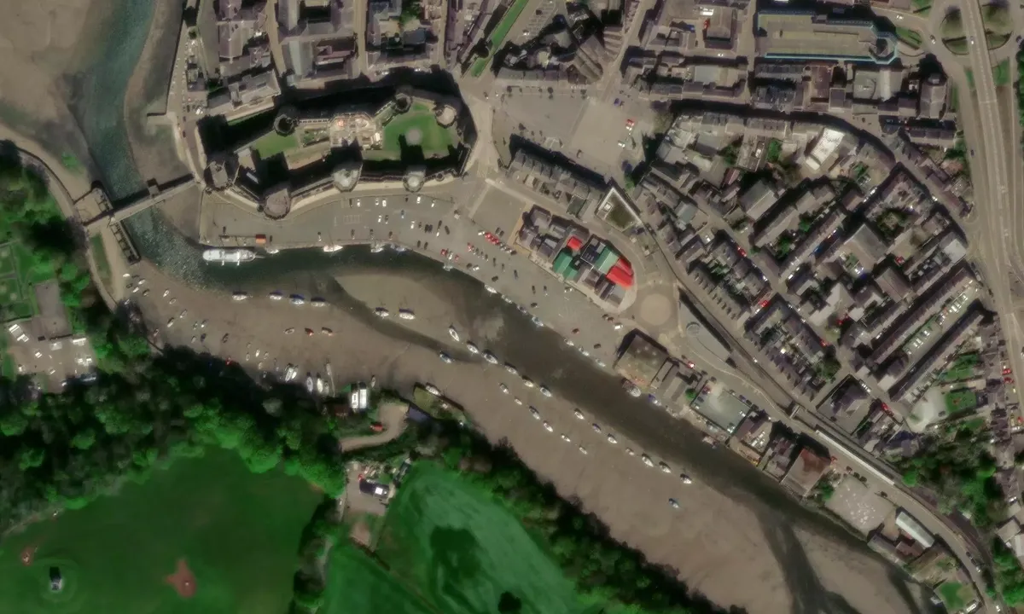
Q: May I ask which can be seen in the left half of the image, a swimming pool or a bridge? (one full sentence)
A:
It is a bridge that can be seen in the left half of the image.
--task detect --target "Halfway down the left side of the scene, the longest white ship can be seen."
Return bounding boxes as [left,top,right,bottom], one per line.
[203,252,254,268]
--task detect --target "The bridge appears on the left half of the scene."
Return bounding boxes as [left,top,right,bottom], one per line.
[84,179,198,230]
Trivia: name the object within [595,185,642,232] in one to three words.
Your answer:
building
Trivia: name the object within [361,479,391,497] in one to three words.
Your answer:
house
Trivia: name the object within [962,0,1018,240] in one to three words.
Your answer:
overpass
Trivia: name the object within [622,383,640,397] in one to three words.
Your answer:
boat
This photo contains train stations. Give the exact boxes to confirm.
[807,427,900,496]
